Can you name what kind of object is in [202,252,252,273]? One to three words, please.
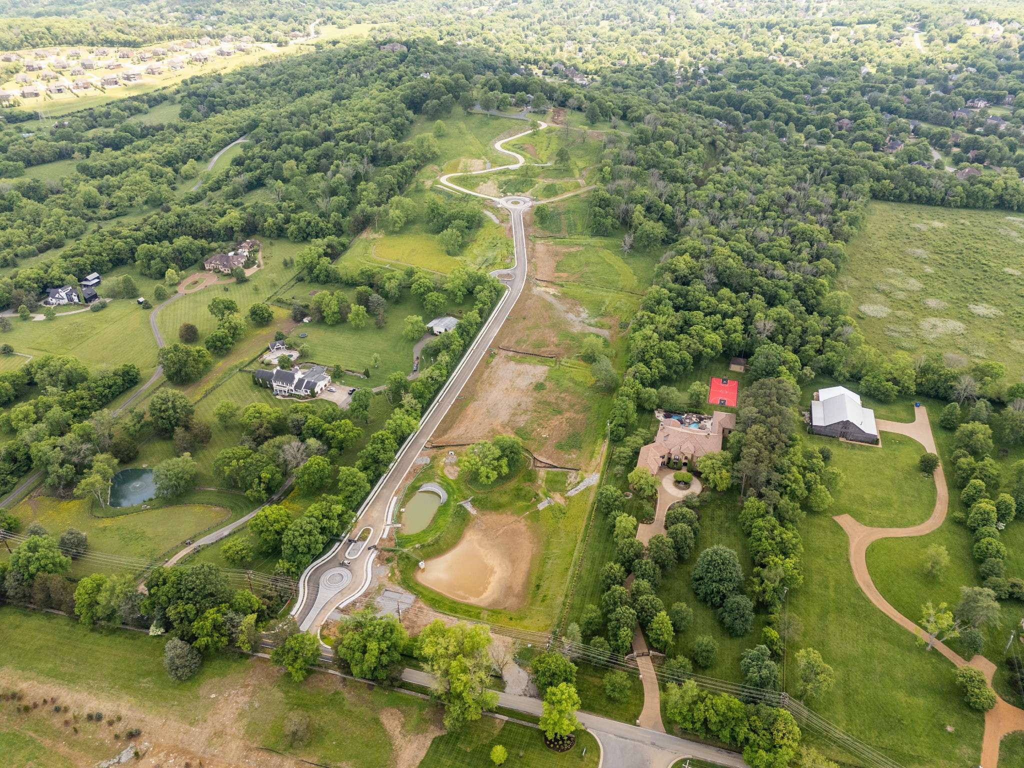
house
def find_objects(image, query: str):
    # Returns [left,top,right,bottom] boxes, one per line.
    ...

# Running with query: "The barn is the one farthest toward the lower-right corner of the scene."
[805,385,890,442]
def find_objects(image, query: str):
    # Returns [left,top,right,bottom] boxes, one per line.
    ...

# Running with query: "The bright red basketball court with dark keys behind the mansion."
[708,377,739,407]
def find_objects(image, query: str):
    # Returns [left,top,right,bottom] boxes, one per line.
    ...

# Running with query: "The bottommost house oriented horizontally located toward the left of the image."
[253,363,341,398]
